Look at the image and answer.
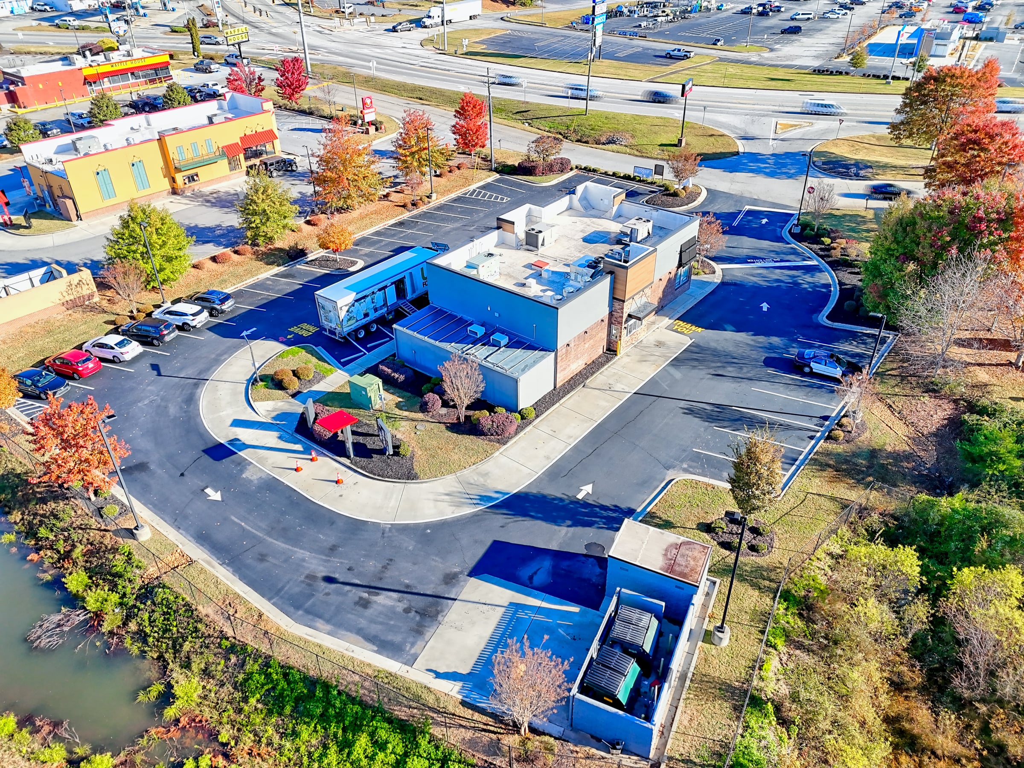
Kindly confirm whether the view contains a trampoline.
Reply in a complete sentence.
No, no trampoline is visible in the view.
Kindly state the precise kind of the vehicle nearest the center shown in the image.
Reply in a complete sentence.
What you see as the vehicle nearest the center is a truck.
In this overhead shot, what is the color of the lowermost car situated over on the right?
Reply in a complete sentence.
The color of the lowermost car situated over on the right is blue.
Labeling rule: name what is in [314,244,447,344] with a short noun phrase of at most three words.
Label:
truck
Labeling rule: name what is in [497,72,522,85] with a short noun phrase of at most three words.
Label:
vehicle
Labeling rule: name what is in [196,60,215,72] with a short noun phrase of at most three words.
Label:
vehicle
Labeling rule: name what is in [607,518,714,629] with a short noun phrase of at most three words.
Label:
shed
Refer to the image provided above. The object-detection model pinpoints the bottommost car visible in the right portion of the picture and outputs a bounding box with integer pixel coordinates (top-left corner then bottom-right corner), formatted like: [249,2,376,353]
[794,347,865,381]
